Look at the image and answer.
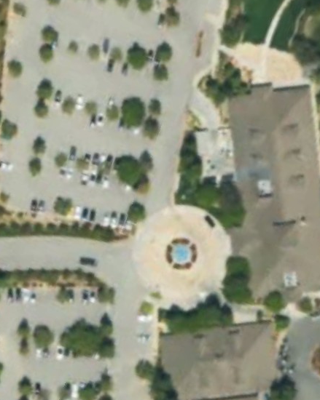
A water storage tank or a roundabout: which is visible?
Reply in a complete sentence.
There is a roundabout in the scene.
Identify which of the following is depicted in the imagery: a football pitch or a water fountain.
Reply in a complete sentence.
Visible in the photo is a water fountain.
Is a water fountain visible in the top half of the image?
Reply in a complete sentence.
No, there's no water fountain to be seen in the top half of the image.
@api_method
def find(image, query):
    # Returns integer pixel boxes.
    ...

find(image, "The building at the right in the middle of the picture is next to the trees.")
[227,84,320,298]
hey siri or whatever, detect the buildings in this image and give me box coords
[227,84,320,298]
[161,323,279,400]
